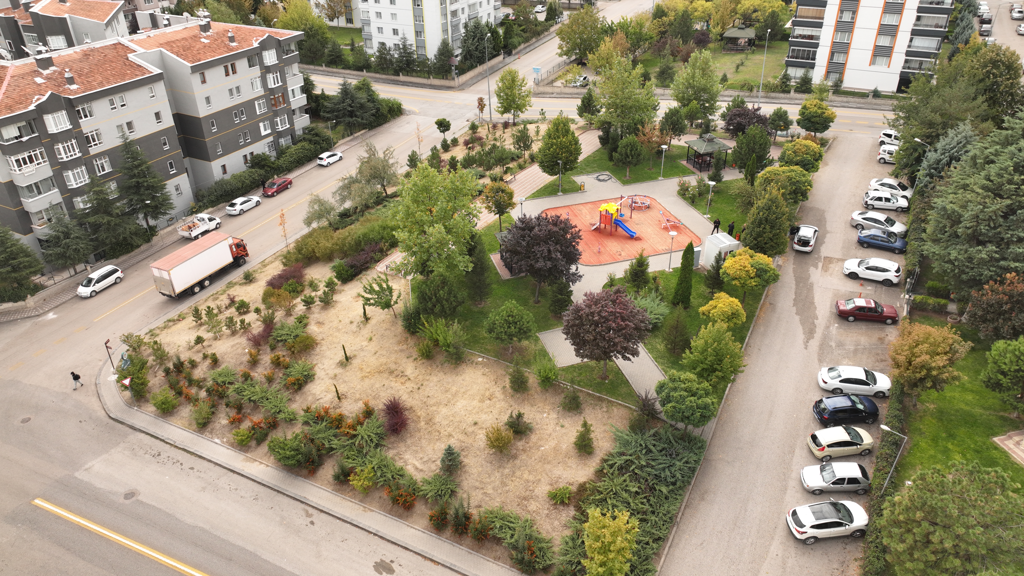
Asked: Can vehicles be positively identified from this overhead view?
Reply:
Yes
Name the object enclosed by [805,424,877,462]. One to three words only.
car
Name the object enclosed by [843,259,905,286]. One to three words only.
car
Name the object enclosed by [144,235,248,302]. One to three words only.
truck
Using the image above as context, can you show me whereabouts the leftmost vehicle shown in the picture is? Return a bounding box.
[73,266,124,299]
